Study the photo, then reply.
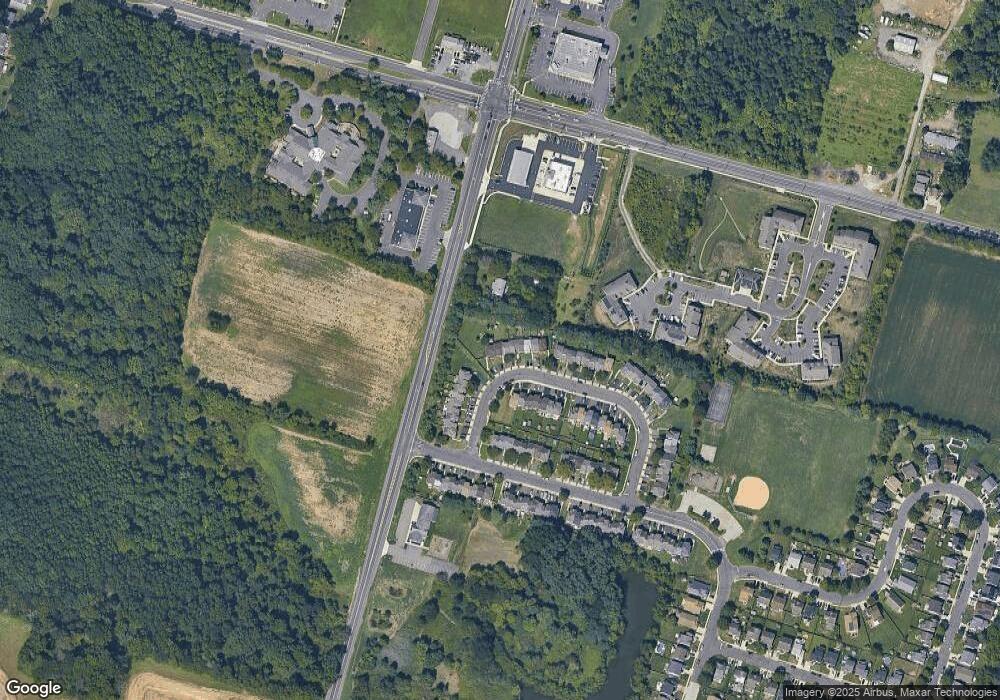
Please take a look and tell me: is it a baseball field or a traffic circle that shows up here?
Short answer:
baseball field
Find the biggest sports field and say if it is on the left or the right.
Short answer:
right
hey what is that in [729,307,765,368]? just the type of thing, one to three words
building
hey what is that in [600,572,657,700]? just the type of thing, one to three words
pond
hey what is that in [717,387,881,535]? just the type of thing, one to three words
sports field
